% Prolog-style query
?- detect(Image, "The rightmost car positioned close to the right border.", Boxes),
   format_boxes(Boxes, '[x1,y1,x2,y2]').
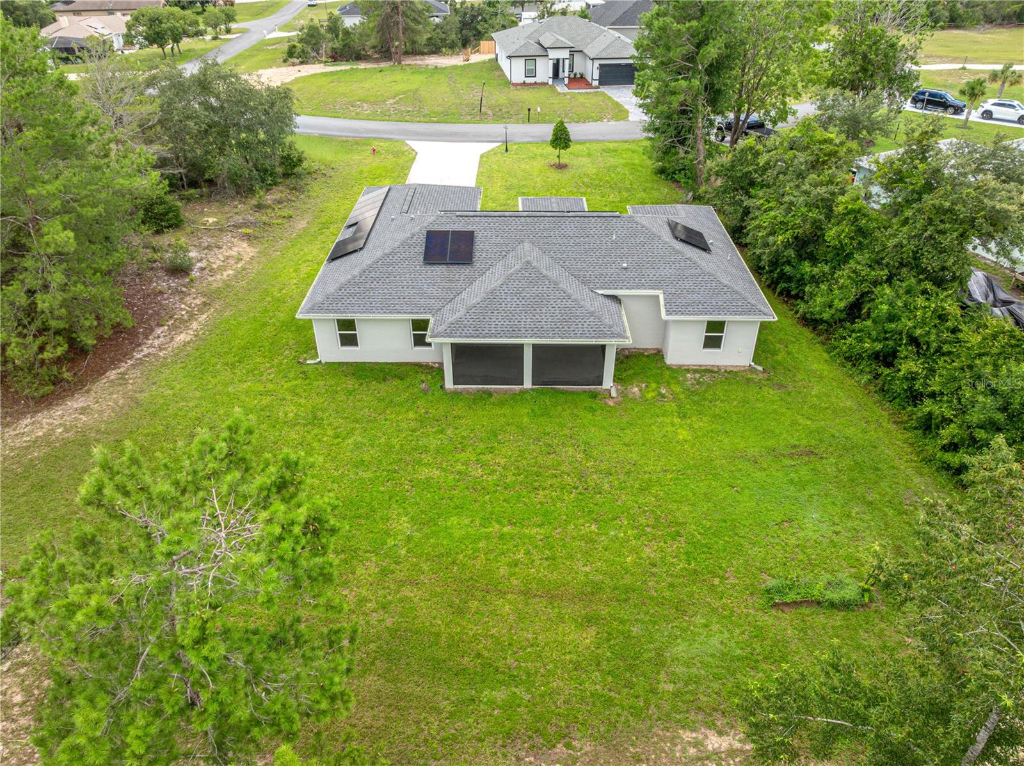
[981,99,1024,127]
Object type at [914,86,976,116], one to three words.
car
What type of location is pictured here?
residential area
